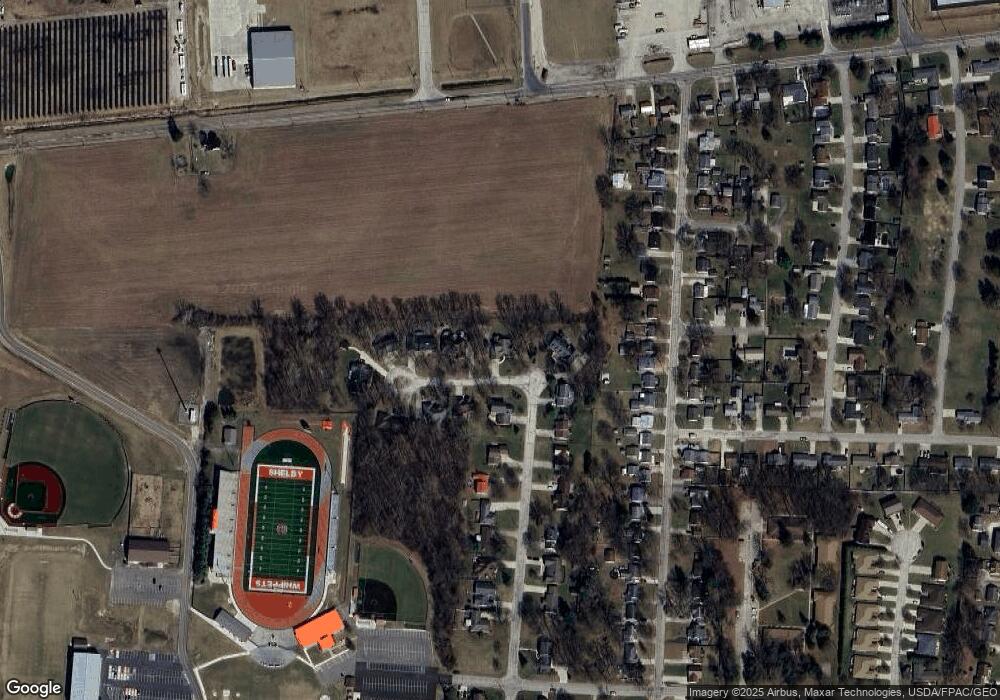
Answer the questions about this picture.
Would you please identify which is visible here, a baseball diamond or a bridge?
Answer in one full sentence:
Looking from above, you can make out a baseball diamond.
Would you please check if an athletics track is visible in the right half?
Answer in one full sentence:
No, no athletics track appears in the right half.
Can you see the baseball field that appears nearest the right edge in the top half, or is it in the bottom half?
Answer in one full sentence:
Seen from above, the baseball field that appears nearest the right edge lies in the bottom half of the view.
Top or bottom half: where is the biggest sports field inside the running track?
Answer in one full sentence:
The bottom half of the photo is where the biggest sports field inside the running track is.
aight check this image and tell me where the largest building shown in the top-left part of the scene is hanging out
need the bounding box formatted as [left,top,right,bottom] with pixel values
[251,30,294,87]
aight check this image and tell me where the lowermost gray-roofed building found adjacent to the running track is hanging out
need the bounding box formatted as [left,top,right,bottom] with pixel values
[213,607,255,642]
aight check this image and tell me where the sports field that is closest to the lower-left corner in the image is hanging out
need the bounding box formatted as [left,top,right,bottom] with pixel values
[11,545,96,700]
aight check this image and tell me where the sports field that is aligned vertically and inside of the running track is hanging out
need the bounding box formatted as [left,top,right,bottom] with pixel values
[248,463,315,596]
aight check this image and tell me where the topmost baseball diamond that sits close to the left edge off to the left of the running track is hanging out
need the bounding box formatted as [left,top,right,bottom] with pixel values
[1,400,128,527]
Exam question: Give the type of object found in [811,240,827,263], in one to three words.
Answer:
house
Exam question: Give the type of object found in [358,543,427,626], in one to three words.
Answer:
baseball field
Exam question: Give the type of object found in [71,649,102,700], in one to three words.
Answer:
building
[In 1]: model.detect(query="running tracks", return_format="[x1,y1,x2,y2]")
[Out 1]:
[231,426,332,630]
